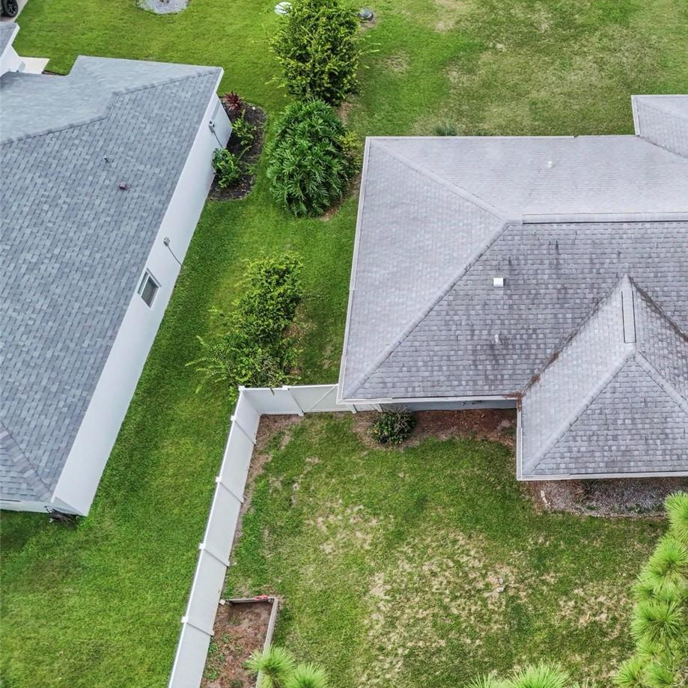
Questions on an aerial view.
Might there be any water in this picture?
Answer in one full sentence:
No, water can't be seen anywhere here.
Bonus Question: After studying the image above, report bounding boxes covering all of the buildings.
[0,23,231,515]
[338,94,688,487]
